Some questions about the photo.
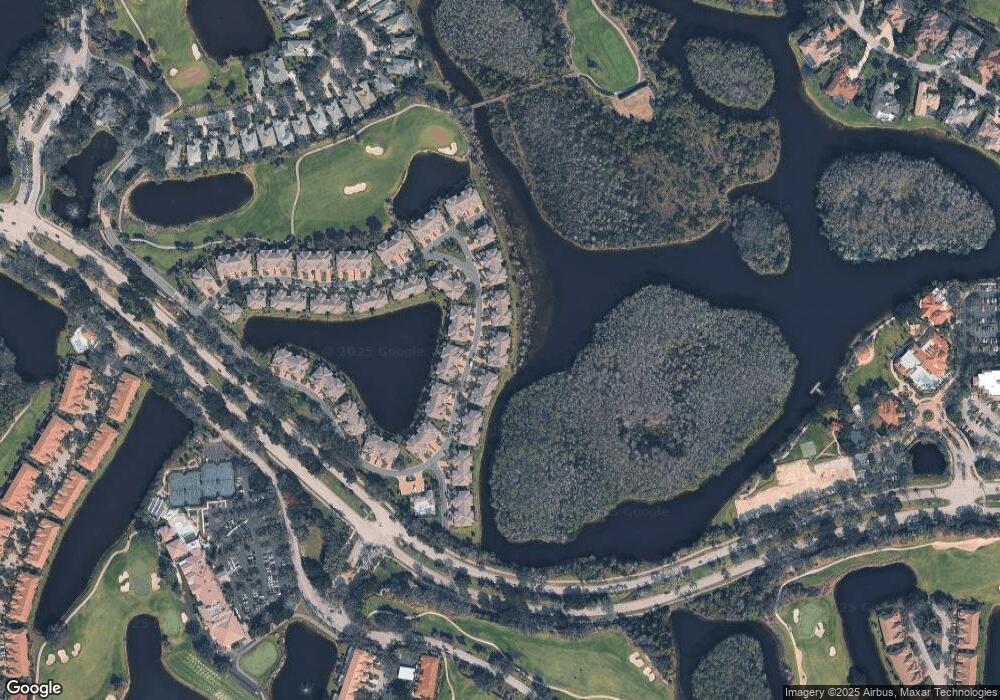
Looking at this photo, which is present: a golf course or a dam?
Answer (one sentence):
Looking from above, you can make out a golf course.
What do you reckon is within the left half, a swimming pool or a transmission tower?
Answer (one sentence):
It is a swimming pool that can be seen within the left half.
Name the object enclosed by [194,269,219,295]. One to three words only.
house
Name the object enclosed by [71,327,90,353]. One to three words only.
swimming pool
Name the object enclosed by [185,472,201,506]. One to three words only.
tennis court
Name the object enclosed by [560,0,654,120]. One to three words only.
golf course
